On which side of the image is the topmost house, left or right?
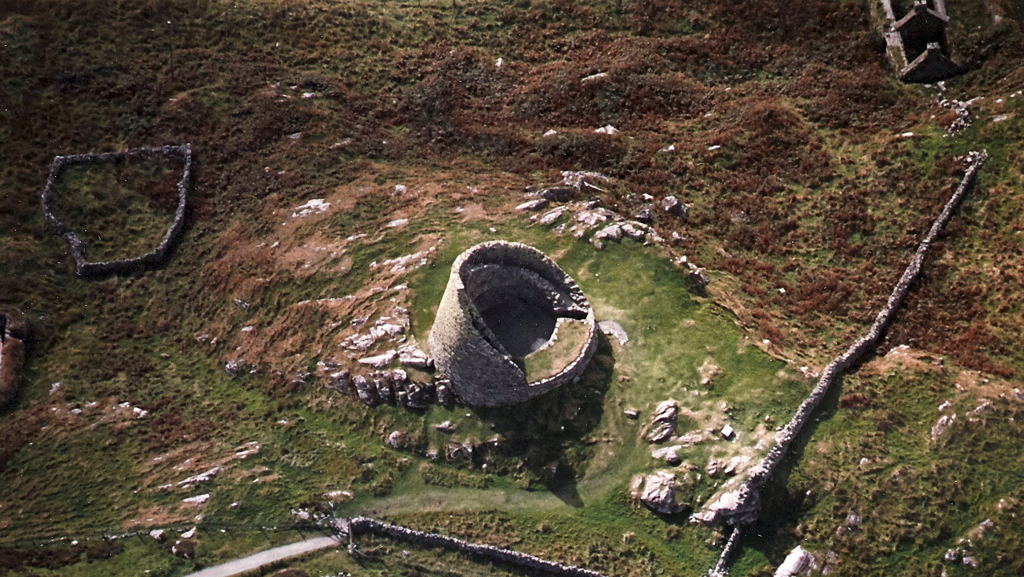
right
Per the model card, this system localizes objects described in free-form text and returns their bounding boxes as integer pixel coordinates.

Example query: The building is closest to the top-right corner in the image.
[890,0,962,86]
